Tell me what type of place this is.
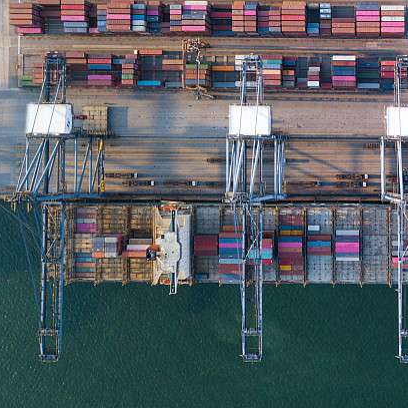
port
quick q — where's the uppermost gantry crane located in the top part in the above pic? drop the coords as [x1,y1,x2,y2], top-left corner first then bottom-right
[178,36,209,91]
